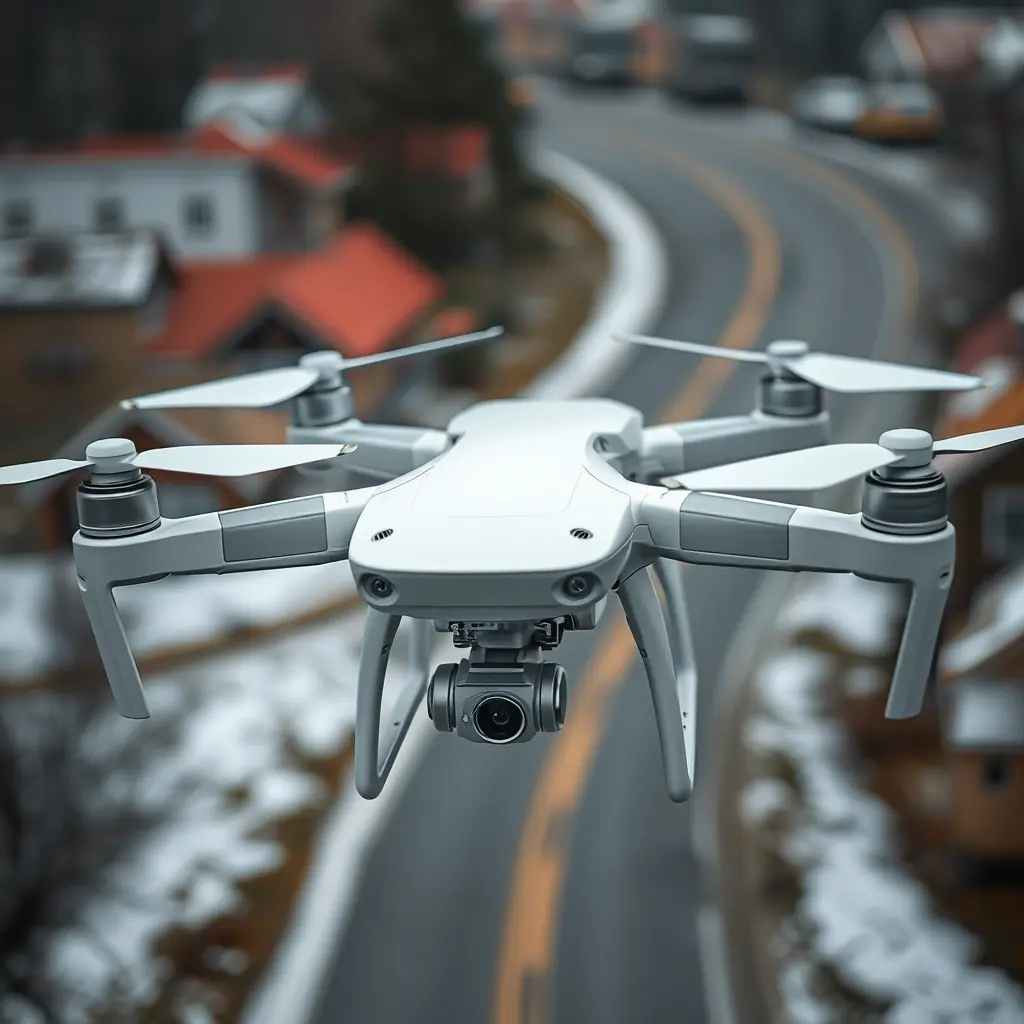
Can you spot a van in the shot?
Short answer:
Yes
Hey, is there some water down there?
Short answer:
No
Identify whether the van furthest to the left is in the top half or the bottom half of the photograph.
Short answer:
top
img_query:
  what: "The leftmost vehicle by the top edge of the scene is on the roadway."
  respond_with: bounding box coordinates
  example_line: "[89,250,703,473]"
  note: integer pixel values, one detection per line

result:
[566,6,640,84]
